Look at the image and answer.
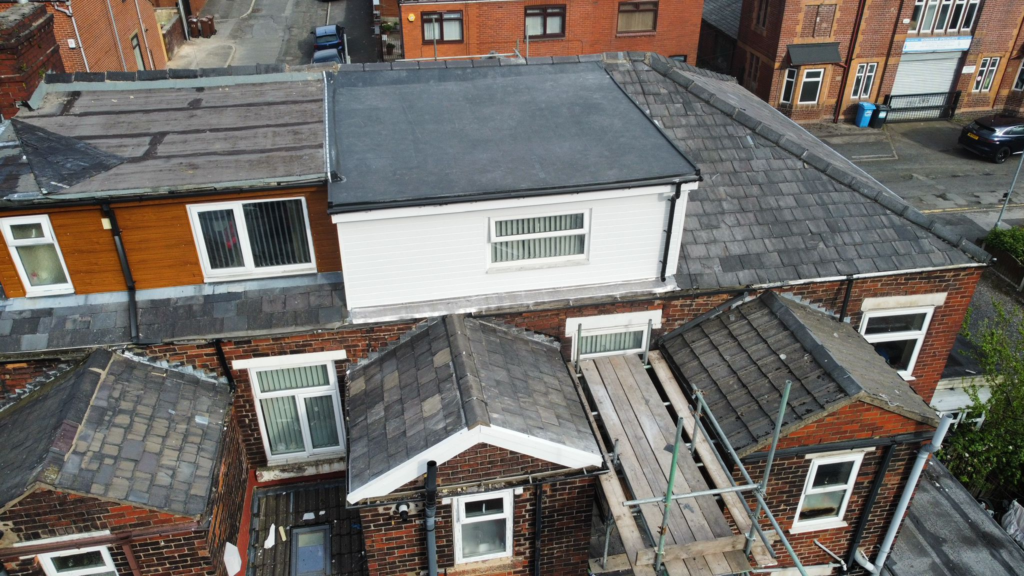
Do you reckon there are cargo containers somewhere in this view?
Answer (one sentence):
No, there appears to be no cargo container in this shot.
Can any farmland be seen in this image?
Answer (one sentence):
No, the scene doesn't show any farmland.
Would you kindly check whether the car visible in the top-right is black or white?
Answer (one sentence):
The car visible in the top-right looks black in the image.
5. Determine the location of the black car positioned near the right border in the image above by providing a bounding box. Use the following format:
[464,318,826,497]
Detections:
[958,109,1024,163]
